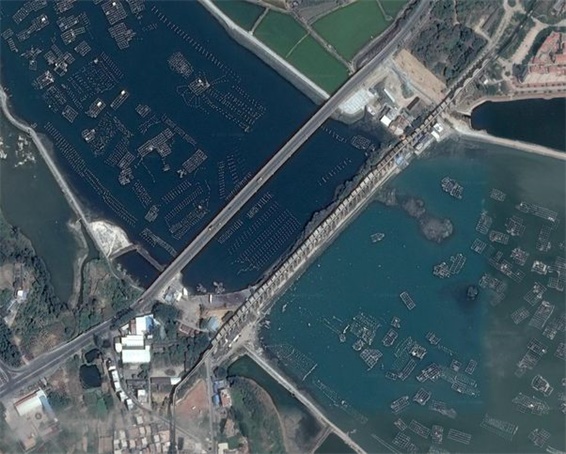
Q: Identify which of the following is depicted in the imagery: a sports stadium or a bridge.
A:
bridge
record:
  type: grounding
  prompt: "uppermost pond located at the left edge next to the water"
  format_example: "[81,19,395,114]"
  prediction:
[0,97,99,309]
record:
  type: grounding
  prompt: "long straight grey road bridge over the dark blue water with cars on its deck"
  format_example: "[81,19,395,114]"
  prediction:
[163,112,325,281]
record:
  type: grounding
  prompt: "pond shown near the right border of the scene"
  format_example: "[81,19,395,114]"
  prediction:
[469,97,566,151]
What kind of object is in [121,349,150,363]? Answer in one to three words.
building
